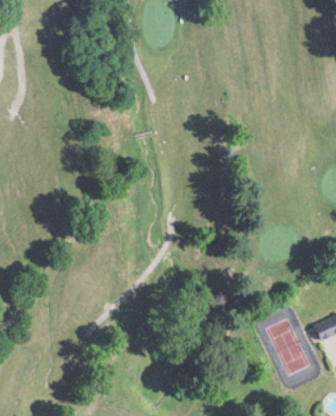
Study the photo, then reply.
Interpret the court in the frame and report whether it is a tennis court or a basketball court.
tennis court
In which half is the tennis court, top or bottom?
bottom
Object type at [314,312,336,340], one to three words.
house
